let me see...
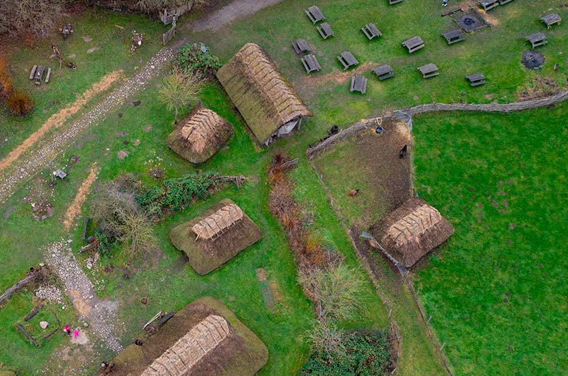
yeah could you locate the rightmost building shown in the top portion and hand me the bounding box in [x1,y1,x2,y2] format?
[216,43,314,151]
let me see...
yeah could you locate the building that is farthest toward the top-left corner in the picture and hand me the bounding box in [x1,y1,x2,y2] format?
[167,102,235,167]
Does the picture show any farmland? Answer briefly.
Yes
